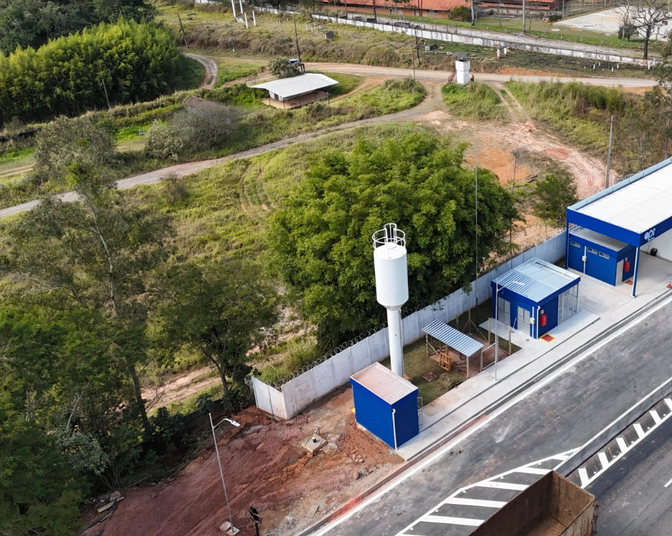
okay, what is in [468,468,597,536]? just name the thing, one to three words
trailer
